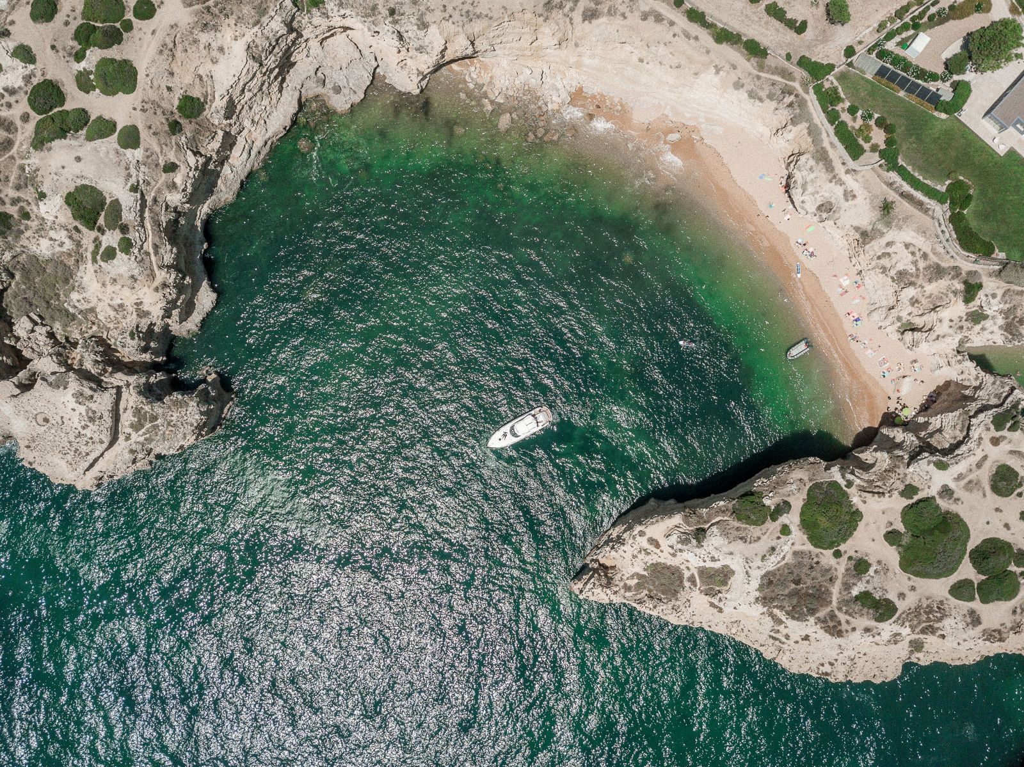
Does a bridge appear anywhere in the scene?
No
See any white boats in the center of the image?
Yes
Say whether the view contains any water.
Yes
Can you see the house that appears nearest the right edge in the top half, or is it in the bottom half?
top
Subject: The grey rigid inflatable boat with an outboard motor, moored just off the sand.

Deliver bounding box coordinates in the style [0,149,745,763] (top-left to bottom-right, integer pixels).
[788,340,811,358]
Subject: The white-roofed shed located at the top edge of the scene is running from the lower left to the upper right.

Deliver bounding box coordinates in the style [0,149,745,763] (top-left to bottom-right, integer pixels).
[902,32,931,63]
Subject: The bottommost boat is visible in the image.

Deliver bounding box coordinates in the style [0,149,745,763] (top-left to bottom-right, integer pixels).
[487,406,553,447]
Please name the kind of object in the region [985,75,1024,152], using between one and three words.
house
